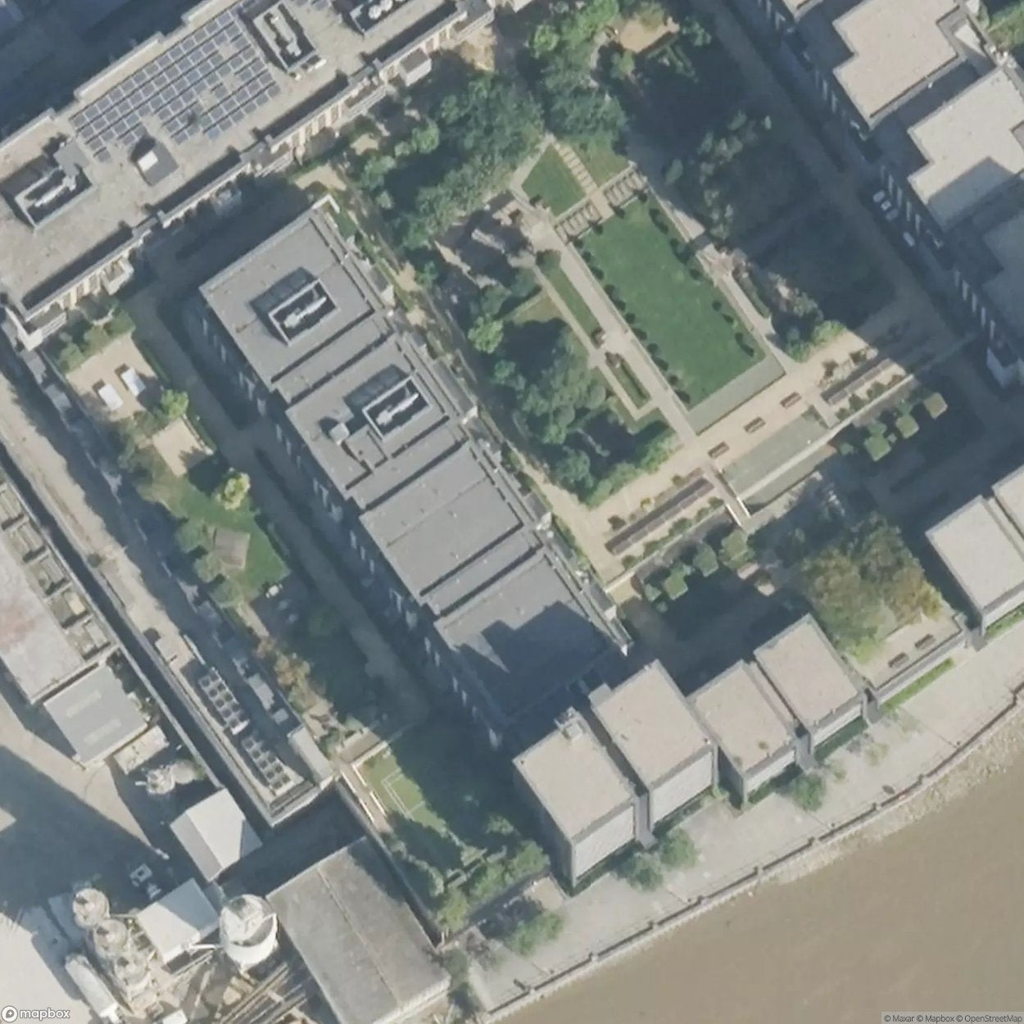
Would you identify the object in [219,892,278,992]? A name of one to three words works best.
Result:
silo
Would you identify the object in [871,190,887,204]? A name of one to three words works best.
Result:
car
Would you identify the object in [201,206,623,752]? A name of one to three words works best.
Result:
building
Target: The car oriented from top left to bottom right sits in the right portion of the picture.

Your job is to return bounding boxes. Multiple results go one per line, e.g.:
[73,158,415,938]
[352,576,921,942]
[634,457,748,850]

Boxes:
[901,231,916,247]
